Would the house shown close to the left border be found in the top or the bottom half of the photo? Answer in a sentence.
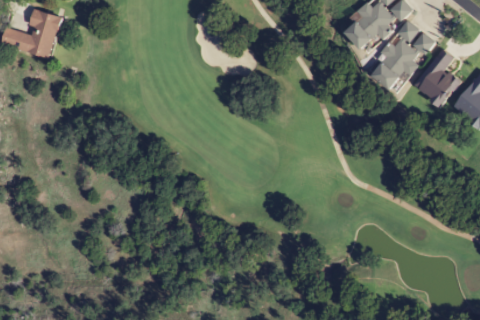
The house shown close to the left border sits in the top half of the picture.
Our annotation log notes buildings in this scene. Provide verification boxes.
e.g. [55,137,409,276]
[2,8,62,56]
[454,77,480,126]
[343,0,412,50]
[370,21,436,92]
[416,50,462,100]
